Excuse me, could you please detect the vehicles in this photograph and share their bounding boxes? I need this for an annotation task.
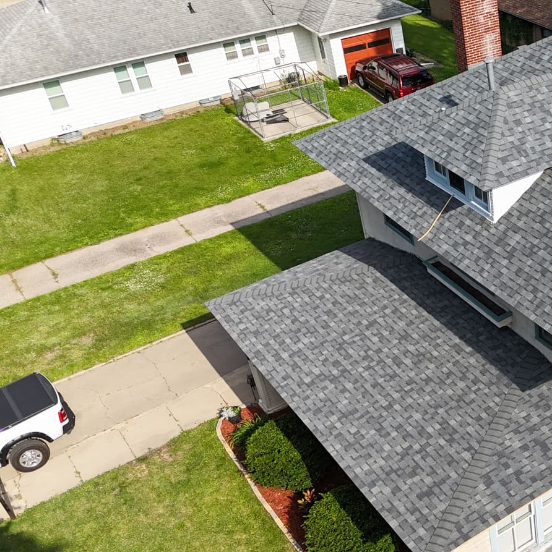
[349,55,437,103]
[0,368,88,470]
